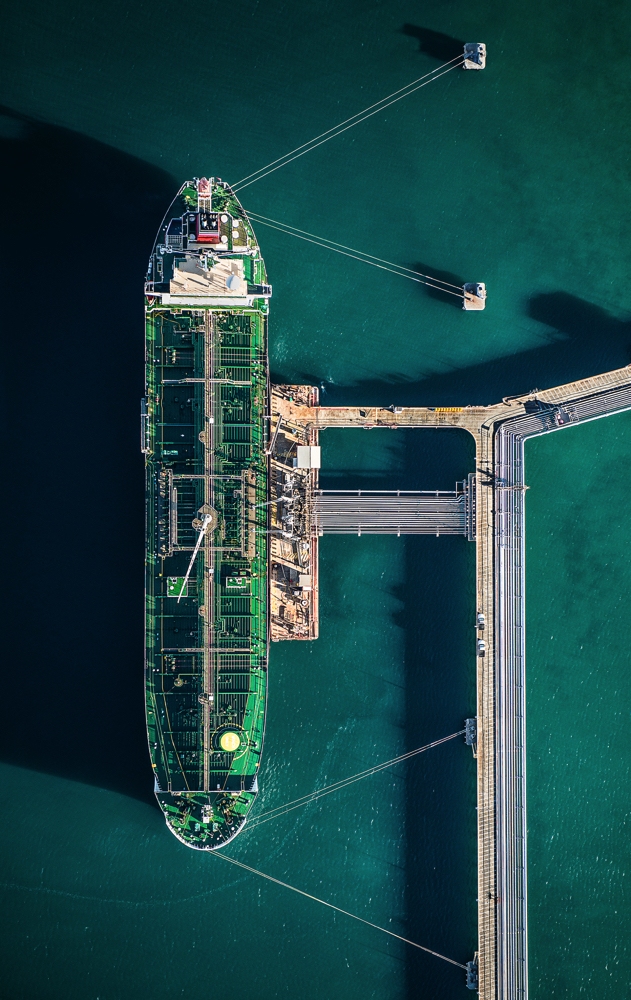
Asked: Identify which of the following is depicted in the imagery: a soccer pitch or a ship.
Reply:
ship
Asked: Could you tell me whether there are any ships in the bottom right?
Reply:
No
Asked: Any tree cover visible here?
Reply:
No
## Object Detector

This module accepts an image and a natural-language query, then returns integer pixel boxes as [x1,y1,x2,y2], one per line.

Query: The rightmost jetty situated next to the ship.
[474,365,631,1000]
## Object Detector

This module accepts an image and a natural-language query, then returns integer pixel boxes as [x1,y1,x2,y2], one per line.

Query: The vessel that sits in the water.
[141,177,272,853]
